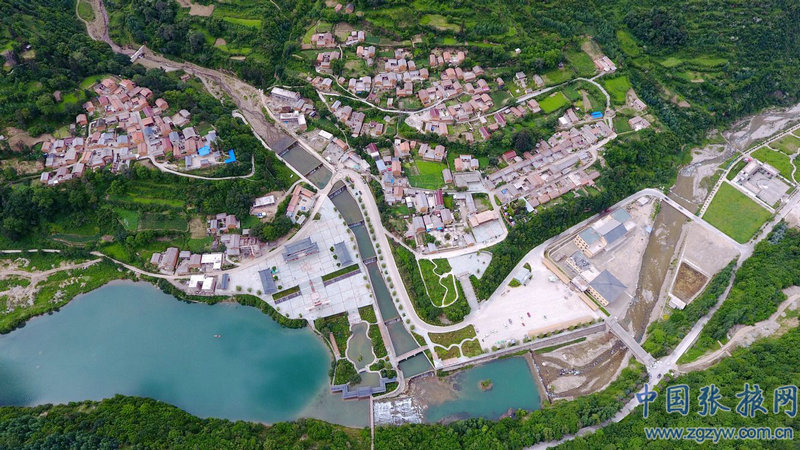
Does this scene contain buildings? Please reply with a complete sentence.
Yes, the image includes a building.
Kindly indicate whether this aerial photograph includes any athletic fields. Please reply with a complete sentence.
Yes, the photo shows an athletic field.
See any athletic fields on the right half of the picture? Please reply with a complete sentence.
Yes, the scene does show an athletic field on the right half of the picture.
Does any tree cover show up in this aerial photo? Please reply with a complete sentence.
Yes, some tree cover is visible.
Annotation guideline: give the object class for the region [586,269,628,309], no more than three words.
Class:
building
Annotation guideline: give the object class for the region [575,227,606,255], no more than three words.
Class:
building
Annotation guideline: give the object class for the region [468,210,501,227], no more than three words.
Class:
house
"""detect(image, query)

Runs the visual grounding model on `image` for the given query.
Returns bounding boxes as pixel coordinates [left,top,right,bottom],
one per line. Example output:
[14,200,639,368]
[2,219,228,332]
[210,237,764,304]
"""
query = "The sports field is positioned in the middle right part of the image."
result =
[703,184,770,242]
